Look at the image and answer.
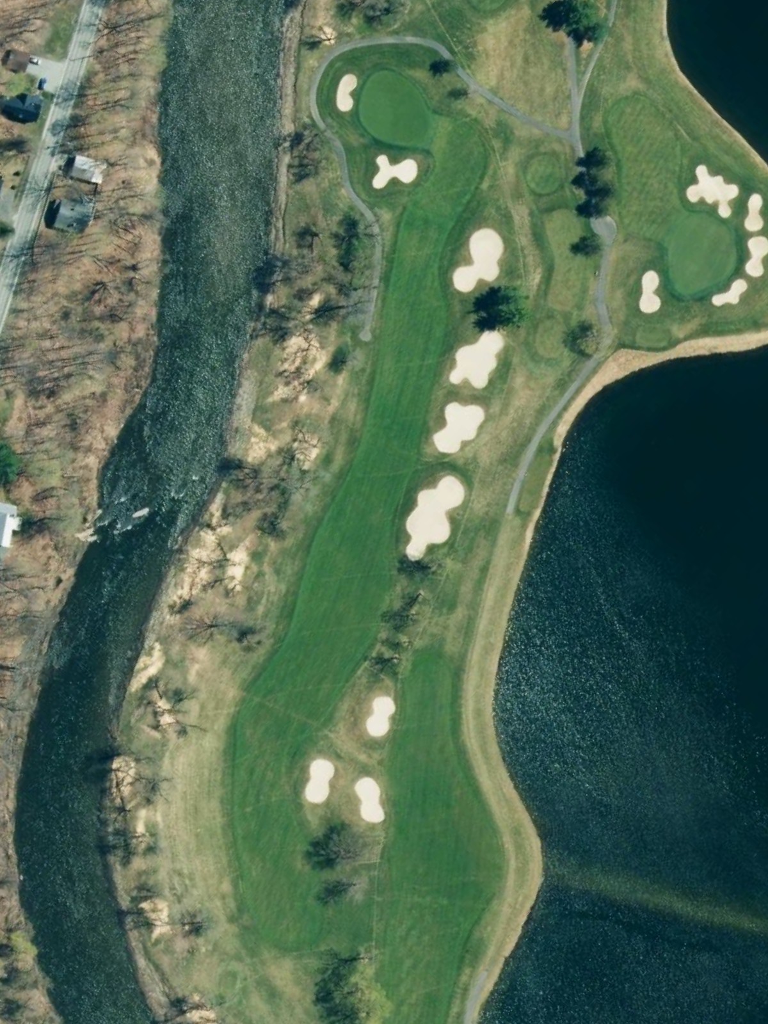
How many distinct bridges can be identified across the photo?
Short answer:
zero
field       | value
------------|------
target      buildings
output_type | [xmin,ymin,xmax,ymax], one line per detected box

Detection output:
[67,151,100,179]
[57,197,91,228]
[0,504,21,550]
[1,92,39,120]
[5,47,29,70]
